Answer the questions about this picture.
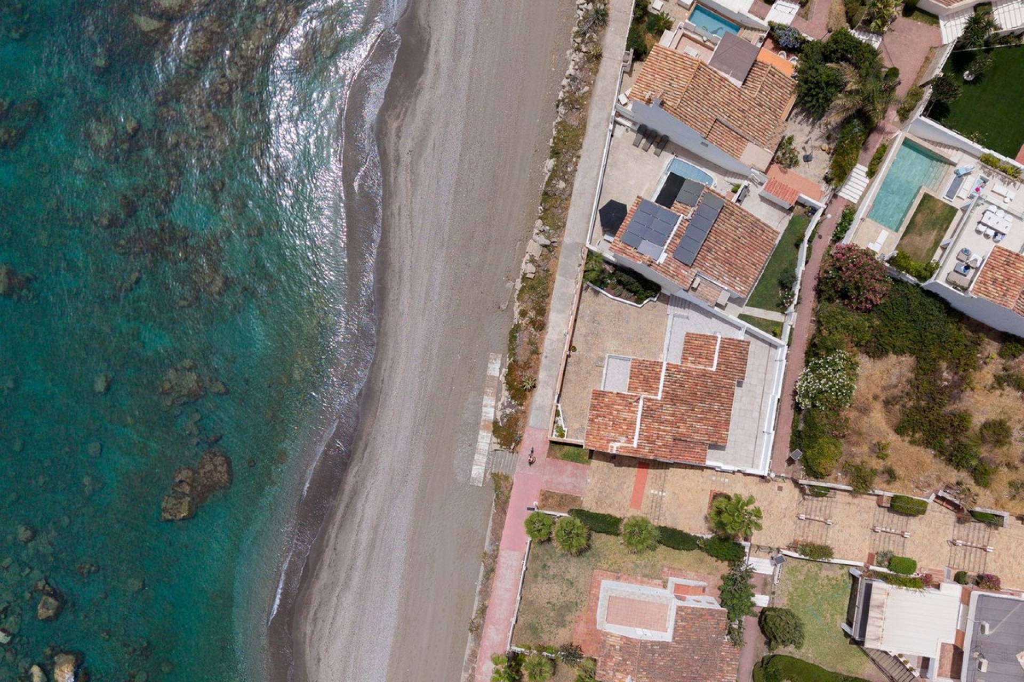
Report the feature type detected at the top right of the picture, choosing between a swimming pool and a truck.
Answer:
swimming pool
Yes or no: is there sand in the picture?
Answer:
Yes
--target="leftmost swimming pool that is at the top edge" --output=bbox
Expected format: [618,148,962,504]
[681,0,746,38]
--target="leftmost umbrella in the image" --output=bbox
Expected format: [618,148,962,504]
[597,202,628,233]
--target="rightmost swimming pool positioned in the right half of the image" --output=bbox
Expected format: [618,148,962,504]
[860,131,961,240]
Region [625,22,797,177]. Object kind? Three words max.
house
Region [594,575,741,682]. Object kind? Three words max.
house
